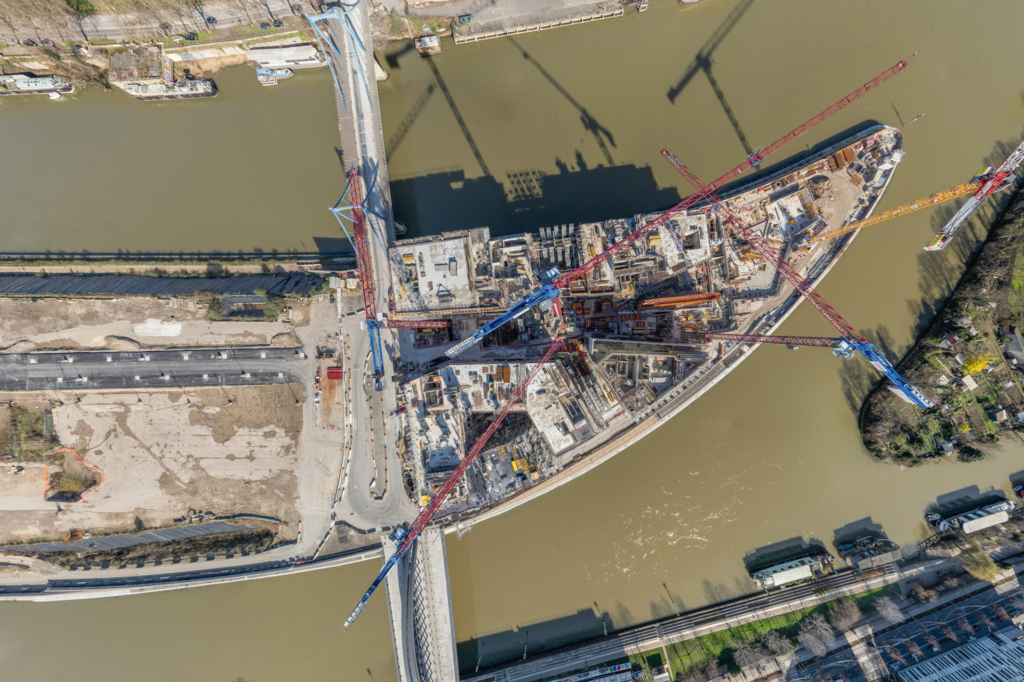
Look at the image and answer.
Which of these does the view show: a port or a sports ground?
port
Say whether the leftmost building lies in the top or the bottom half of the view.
top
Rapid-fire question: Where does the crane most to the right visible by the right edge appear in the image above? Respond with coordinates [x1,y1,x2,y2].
[803,131,1024,259]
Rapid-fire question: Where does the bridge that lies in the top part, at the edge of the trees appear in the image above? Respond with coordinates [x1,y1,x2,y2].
[303,0,406,282]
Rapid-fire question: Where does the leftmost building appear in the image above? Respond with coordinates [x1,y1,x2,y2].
[107,43,183,88]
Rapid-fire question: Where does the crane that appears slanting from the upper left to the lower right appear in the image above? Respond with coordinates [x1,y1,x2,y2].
[644,138,944,416]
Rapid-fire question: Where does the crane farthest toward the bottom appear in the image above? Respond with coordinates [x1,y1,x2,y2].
[335,324,573,638]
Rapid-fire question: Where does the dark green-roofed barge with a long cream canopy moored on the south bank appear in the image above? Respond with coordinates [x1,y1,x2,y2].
[748,547,834,593]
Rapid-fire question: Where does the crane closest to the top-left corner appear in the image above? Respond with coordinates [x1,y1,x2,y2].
[345,155,458,403]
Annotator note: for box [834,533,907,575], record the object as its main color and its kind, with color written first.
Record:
gray ship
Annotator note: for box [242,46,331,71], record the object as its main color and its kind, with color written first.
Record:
white boat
